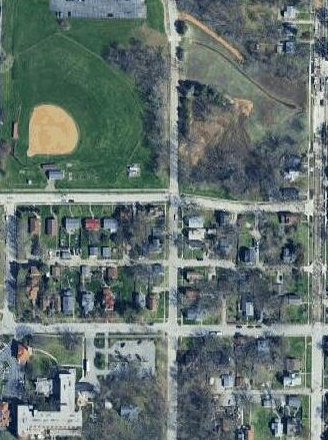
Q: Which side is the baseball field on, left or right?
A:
left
